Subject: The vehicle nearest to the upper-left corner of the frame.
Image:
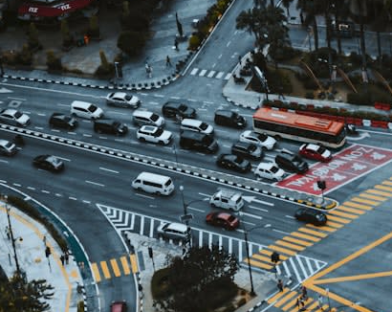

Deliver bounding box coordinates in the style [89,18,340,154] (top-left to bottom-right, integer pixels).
[0,109,31,127]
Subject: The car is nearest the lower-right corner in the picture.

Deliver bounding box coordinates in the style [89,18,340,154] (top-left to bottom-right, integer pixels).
[292,209,328,228]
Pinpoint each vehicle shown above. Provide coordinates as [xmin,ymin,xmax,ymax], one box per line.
[214,155,253,174]
[109,304,127,312]
[239,132,277,150]
[0,140,20,157]
[44,111,82,131]
[271,149,311,174]
[252,162,287,182]
[134,125,172,145]
[128,107,167,128]
[209,104,250,129]
[90,114,129,137]
[178,130,218,153]
[227,140,267,162]
[177,114,216,137]
[0,109,31,127]
[159,101,197,119]
[292,209,328,228]
[252,108,351,149]
[202,212,243,231]
[30,156,67,174]
[209,187,243,210]
[295,145,335,163]
[131,169,174,194]
[67,98,105,119]
[104,92,141,109]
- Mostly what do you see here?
paved ground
